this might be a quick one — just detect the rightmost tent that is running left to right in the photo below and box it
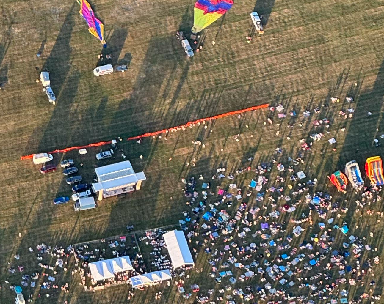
[130,269,172,289]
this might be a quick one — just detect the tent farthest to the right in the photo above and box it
[164,229,193,271]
